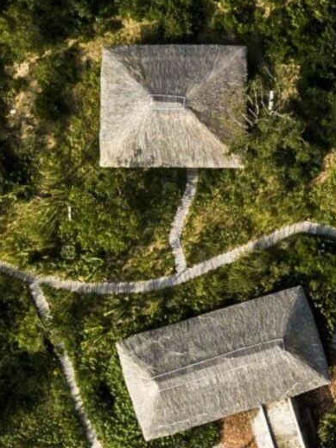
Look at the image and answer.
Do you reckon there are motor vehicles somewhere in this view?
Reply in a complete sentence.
No, the scene contains no motor vehicle.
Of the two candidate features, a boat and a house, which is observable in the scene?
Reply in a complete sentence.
Visible in the photo is a house.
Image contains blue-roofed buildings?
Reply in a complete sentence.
No, the scene contains no blue-roofed building.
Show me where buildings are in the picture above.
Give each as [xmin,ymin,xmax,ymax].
[98,45,248,169]
[115,288,329,441]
